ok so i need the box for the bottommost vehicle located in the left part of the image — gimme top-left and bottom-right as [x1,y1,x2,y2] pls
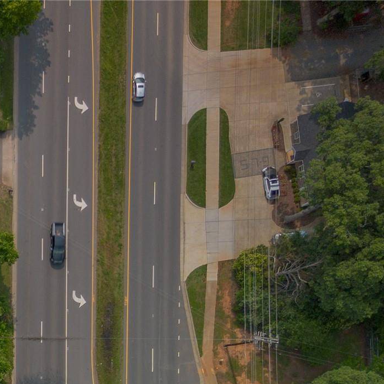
[49,222,66,266]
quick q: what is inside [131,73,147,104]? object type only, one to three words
car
